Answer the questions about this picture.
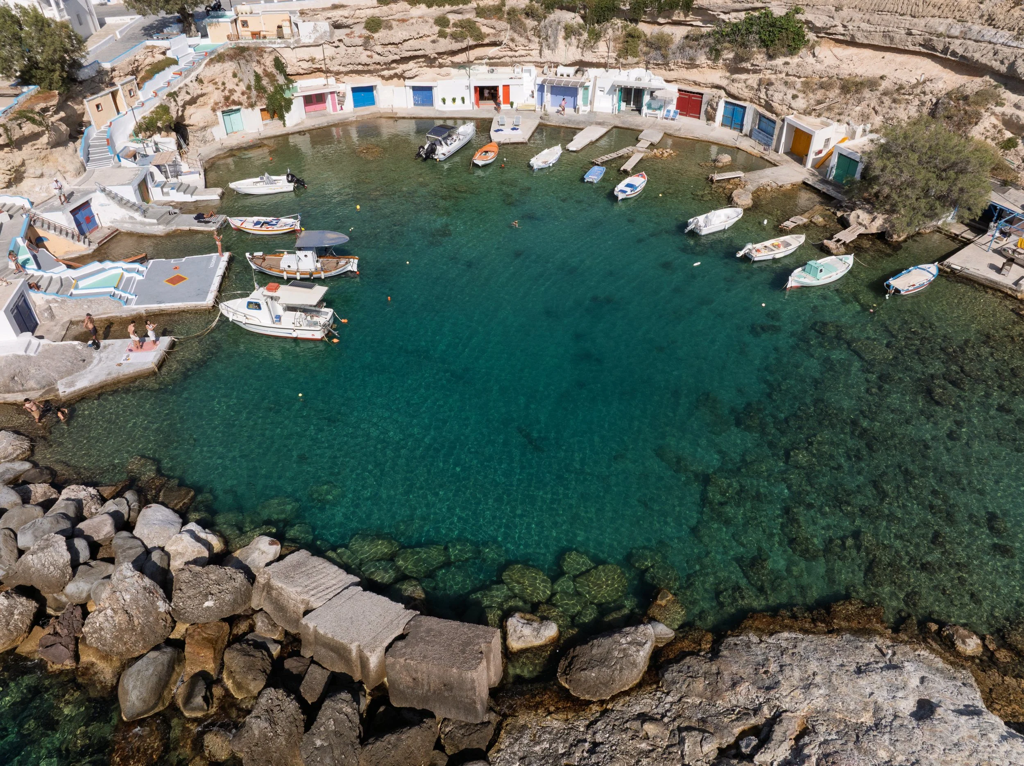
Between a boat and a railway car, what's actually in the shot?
boat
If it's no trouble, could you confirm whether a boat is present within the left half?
Yes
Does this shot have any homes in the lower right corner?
No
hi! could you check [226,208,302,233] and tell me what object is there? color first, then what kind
white boat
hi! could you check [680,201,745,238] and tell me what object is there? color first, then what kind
white boat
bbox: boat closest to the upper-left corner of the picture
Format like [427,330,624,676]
[72,251,146,265]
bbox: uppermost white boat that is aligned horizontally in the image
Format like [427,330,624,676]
[228,172,313,197]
